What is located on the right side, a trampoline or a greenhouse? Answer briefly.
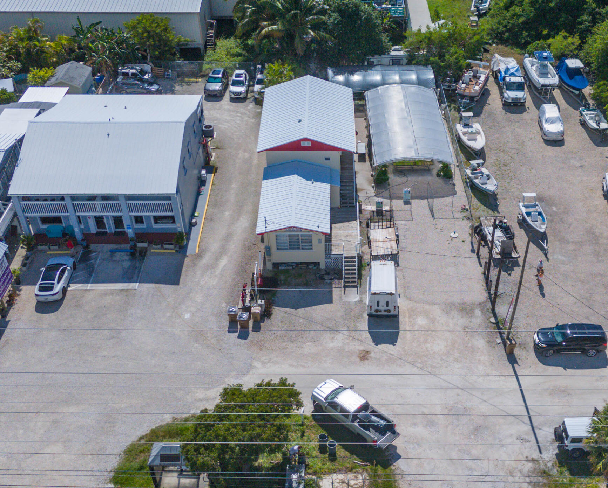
greenhouse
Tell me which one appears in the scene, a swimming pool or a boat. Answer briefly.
boat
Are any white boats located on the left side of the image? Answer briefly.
No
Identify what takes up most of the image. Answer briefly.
paved ground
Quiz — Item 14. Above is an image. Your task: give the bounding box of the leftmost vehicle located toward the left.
[34,255,78,301]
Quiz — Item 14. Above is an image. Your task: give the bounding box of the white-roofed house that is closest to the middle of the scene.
[256,176,331,265]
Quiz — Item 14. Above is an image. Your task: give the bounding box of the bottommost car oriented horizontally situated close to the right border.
[531,325,608,363]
